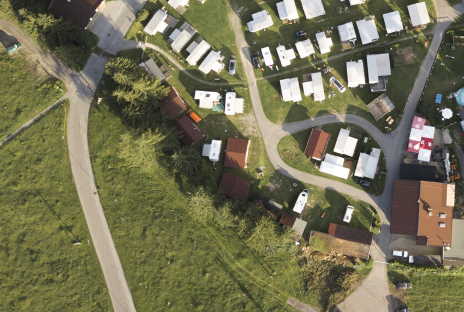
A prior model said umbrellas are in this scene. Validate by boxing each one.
[420,137,433,150]
[410,128,422,141]
[408,139,421,153]
[422,125,435,139]
[418,148,431,162]
[412,116,425,130]
[442,108,453,119]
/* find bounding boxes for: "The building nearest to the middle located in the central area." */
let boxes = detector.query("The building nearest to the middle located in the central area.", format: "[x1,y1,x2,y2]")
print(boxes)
[224,137,251,169]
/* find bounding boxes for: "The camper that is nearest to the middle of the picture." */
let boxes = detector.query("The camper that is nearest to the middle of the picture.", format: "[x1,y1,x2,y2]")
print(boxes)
[202,139,222,162]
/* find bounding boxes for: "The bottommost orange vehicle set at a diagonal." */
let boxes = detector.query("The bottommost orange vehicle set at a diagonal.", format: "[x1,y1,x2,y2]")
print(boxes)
[186,108,202,124]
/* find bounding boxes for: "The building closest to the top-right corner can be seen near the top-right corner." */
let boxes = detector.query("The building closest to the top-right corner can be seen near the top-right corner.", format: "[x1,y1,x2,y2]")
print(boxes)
[408,2,430,30]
